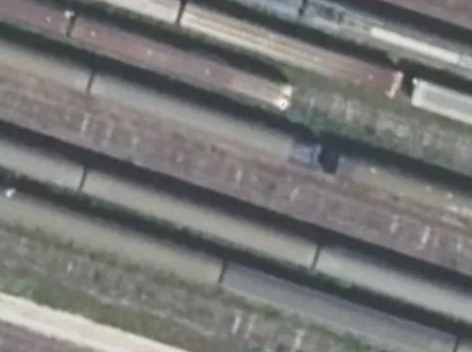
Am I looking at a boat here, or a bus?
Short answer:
bus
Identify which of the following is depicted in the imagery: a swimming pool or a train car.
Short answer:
train car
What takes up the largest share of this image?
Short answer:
paved ground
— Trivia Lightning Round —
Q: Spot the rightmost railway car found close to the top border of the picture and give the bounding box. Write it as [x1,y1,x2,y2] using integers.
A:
[299,0,472,81]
